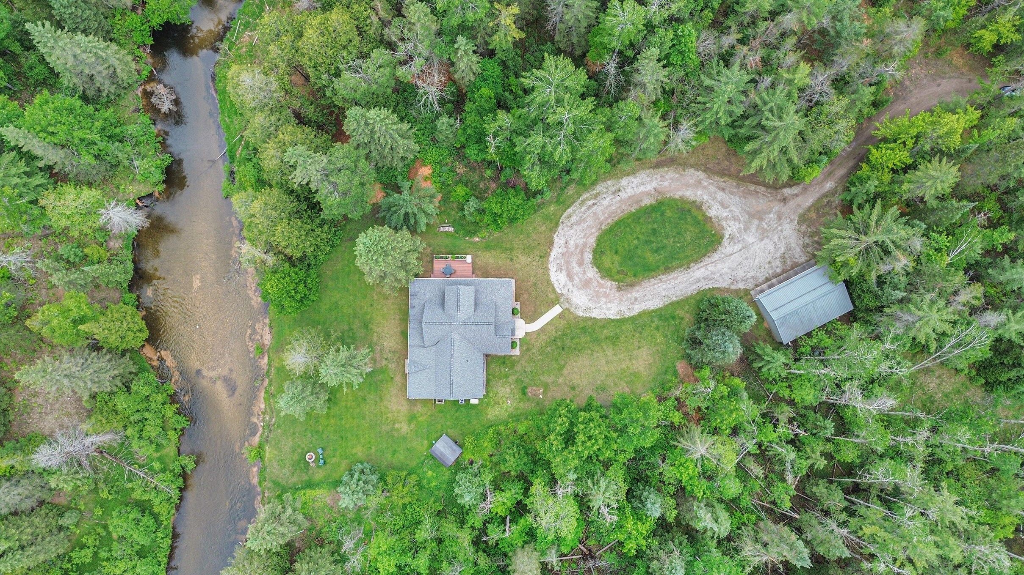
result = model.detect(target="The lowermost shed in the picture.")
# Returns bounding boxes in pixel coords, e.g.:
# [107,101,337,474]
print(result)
[429,434,462,470]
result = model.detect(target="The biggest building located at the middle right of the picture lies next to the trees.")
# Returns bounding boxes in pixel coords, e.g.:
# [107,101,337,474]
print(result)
[748,260,854,345]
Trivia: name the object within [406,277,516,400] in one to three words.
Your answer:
house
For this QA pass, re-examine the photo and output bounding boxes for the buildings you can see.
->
[406,277,516,400]
[748,260,854,345]
[429,434,462,470]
